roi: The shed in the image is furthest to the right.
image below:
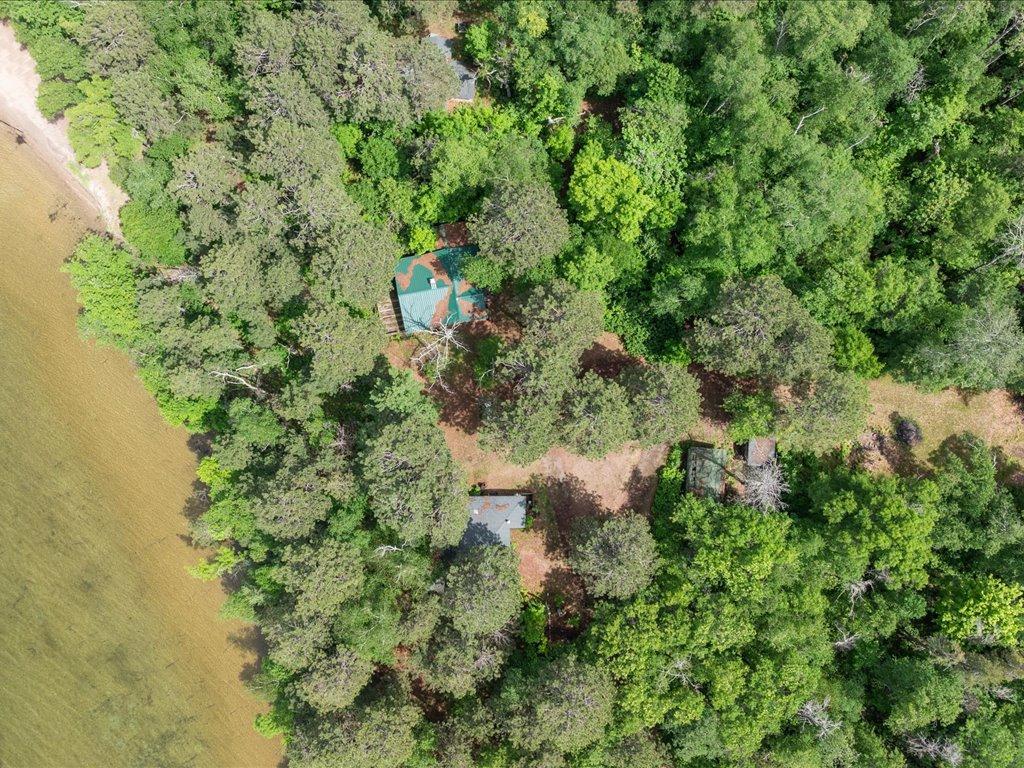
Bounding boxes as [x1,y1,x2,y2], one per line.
[742,437,776,465]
